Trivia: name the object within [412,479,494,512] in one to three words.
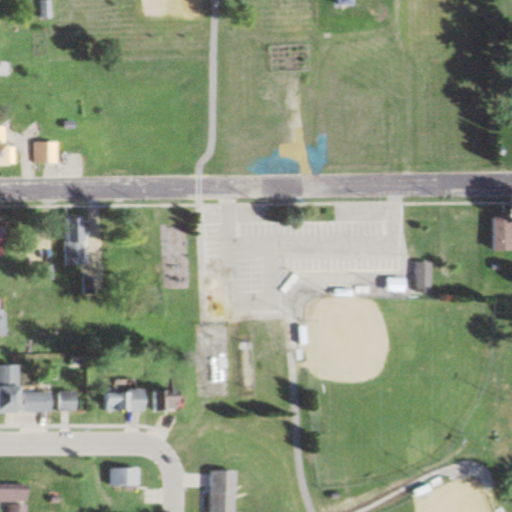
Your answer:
baseball field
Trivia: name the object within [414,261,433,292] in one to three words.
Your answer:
building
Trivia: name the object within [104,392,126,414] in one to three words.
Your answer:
house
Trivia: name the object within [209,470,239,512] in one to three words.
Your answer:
house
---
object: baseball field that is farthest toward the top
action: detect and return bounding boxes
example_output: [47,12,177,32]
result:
[302,296,496,486]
